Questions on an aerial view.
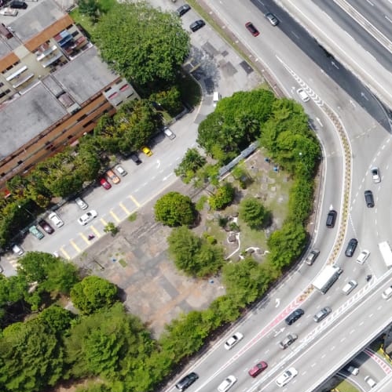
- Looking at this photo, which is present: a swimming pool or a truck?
truck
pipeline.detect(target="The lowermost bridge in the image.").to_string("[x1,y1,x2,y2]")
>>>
[328,341,392,392]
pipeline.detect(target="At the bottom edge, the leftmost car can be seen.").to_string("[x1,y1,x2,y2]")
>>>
[175,373,198,392]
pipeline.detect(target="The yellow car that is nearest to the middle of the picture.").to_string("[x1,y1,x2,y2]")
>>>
[140,144,154,158]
